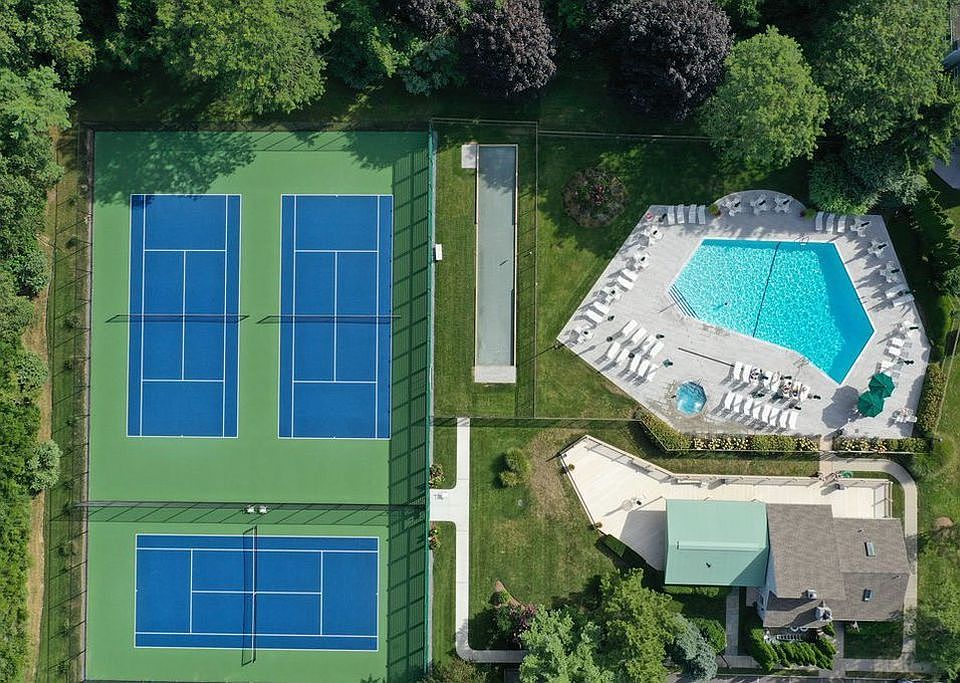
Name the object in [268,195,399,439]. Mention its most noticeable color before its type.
blue tennis court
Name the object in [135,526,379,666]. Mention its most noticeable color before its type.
blue tennis court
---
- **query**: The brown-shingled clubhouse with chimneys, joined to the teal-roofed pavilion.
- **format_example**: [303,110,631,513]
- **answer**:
[759,502,910,628]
